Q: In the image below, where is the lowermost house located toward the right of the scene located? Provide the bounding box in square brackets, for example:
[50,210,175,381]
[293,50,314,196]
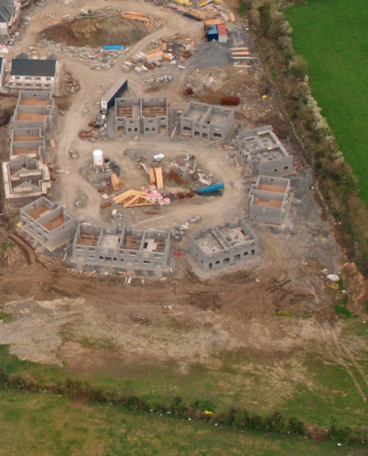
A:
[181,218,265,274]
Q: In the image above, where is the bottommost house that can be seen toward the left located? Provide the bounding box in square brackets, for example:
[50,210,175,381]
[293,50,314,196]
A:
[69,224,174,270]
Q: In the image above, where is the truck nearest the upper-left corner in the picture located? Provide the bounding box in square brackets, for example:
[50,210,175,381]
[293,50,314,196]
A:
[93,79,127,122]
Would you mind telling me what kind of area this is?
residential area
